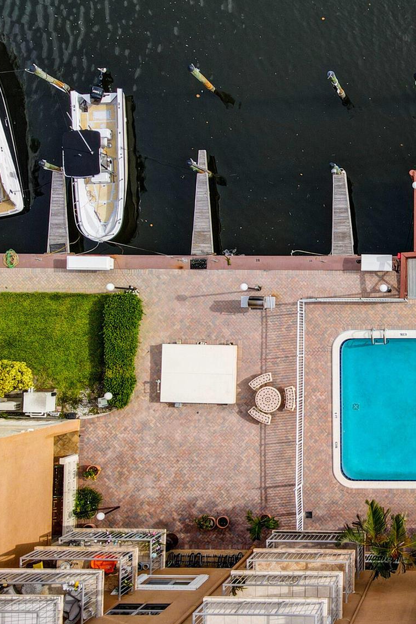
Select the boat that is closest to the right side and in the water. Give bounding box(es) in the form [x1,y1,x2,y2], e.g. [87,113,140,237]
[62,65,131,242]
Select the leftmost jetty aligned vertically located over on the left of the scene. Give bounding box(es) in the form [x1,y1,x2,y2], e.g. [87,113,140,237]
[46,171,78,253]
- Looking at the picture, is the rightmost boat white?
Yes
